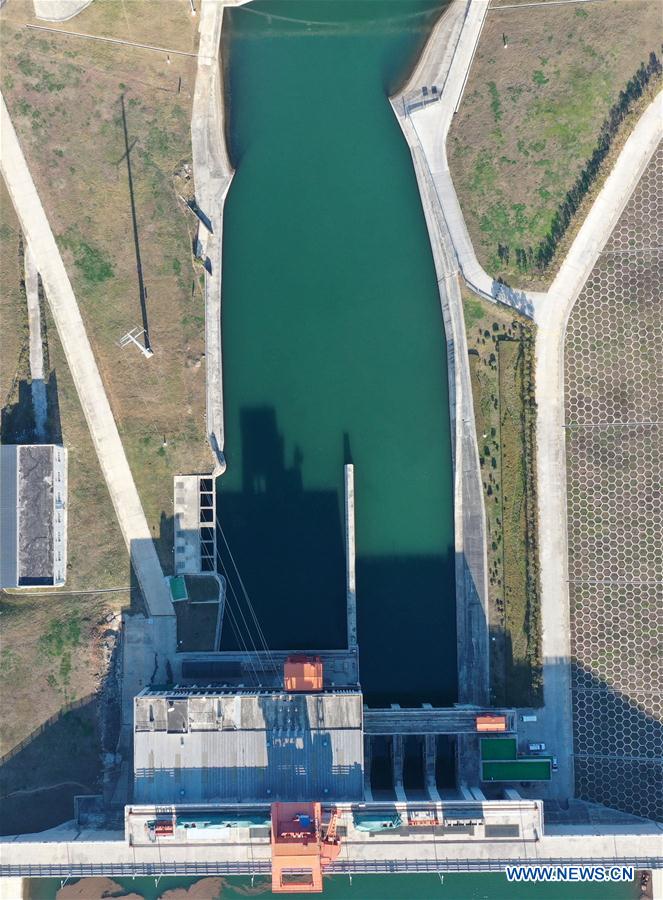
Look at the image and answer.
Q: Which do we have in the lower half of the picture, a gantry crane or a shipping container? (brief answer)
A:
gantry crane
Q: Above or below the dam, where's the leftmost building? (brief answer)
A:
above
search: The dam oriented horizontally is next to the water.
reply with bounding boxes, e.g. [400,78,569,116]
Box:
[0,779,663,875]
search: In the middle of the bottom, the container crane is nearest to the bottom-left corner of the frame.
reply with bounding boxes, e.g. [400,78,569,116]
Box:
[271,809,343,890]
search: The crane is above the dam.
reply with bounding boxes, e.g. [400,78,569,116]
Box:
[283,647,323,691]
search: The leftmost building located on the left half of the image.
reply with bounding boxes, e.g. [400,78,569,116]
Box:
[0,446,70,586]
